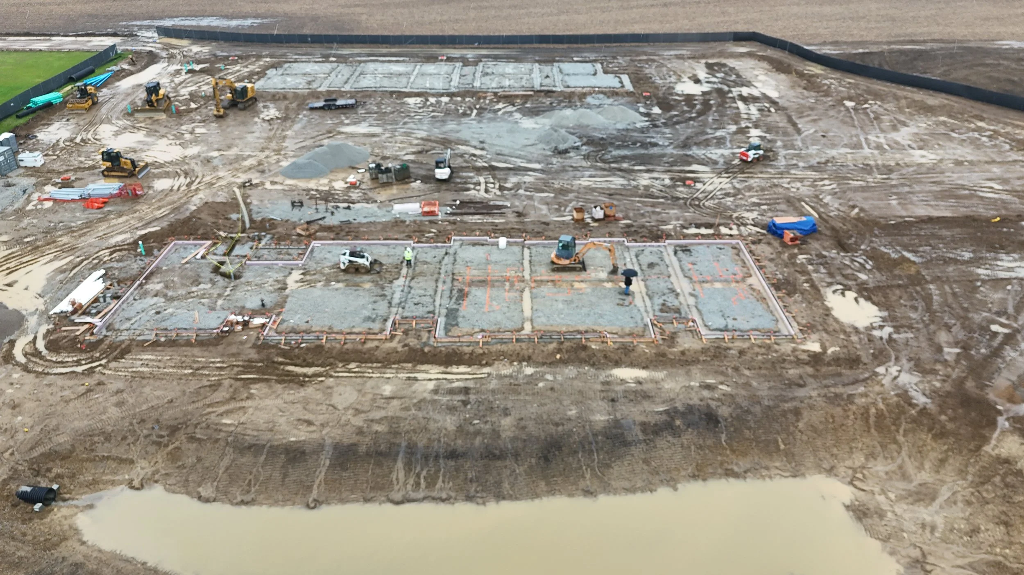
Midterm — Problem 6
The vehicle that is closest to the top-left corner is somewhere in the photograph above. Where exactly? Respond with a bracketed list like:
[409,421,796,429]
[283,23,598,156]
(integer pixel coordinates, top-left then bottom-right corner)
[62,78,109,112]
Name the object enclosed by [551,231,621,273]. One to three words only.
work vehicle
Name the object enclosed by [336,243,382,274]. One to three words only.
work vehicle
